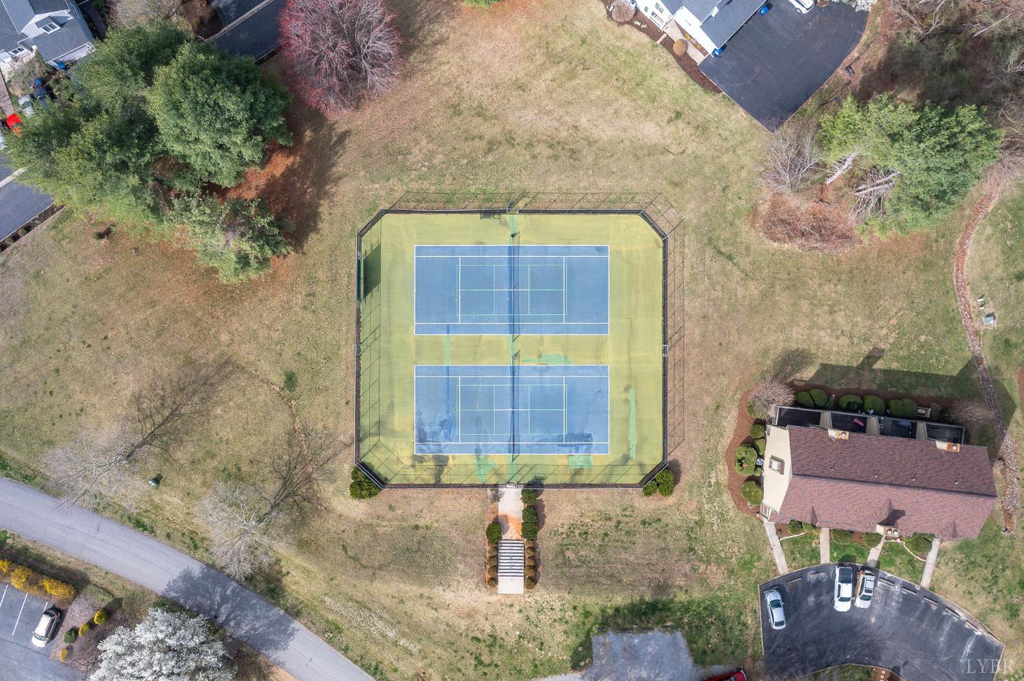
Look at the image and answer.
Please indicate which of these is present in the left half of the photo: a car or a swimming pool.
car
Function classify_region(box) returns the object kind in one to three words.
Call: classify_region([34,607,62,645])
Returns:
car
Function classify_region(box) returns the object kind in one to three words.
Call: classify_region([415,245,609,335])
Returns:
tennis court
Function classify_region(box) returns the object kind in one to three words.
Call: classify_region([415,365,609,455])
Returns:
tennis court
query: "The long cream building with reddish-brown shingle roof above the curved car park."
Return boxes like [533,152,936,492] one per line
[760,405,997,544]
